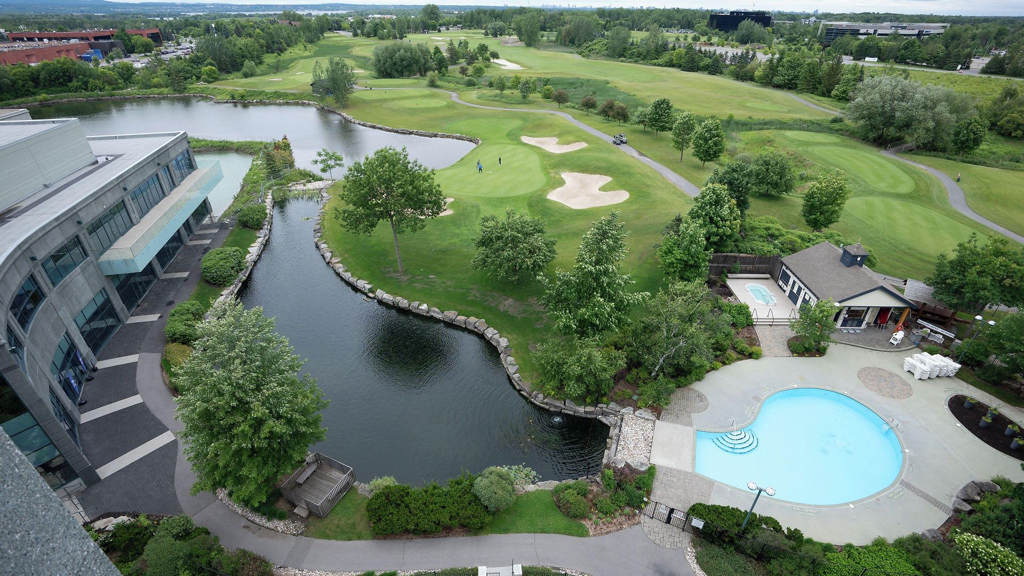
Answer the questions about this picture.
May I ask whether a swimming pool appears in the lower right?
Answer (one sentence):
Yes, you'll find a swimming pool in the lower right.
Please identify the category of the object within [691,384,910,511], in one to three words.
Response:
swimming pool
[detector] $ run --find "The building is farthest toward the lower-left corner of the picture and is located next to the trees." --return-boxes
[0,108,223,502]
